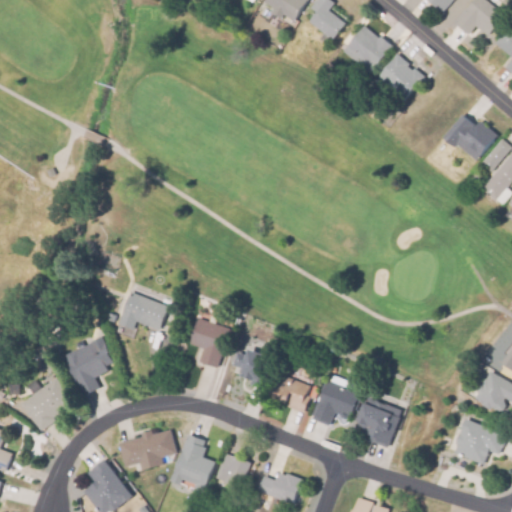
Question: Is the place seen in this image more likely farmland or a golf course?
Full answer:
This looks like a golf course.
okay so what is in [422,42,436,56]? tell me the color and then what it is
white vehicle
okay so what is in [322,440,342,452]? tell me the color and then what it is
white vehicle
